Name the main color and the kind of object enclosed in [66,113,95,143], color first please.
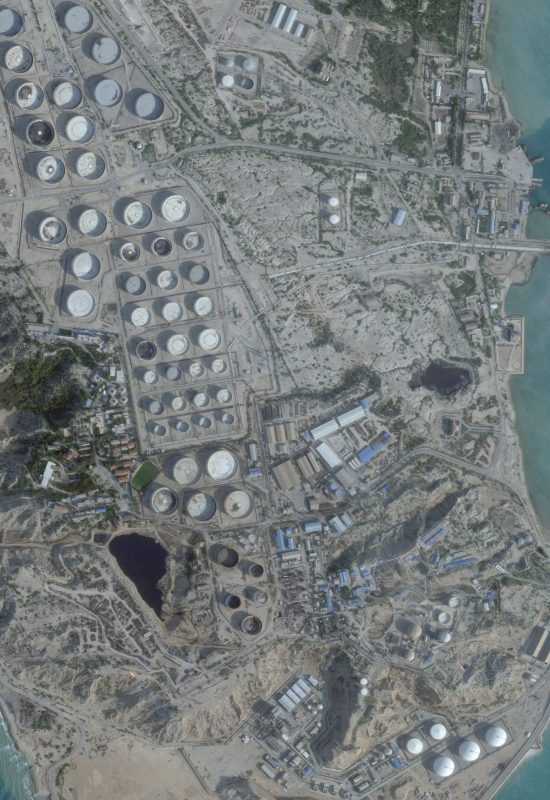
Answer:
white storage tank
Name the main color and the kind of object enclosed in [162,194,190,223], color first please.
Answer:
white storage tank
